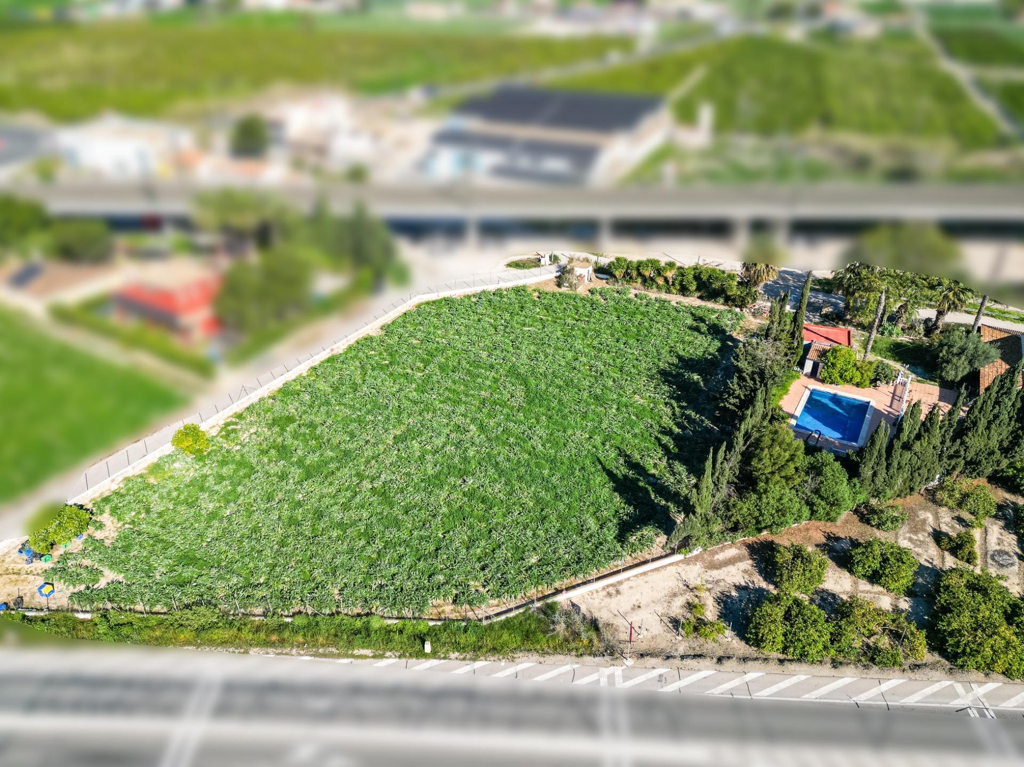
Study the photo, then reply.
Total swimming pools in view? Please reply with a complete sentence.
The count comes to 1 swimming pool.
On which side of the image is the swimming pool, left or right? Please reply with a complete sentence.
The swimming pool sits on the right side.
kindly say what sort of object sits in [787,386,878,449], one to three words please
swimming pool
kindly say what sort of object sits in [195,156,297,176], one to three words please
house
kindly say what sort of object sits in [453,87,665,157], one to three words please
building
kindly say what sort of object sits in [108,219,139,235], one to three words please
vehicle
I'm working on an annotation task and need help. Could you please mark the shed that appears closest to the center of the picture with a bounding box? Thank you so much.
[572,263,591,285]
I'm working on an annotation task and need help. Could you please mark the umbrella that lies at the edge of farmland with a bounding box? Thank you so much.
[29,582,52,608]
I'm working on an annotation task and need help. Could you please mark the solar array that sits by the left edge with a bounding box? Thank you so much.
[5,263,43,287]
